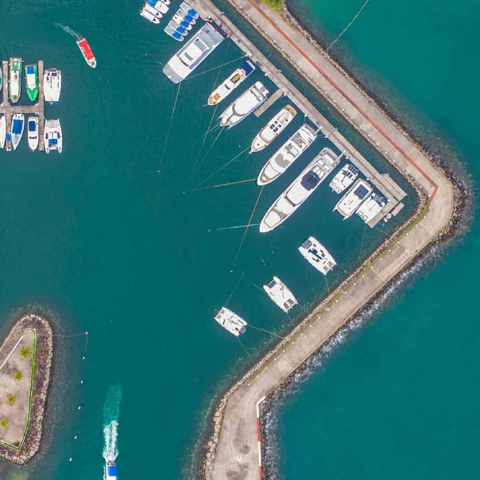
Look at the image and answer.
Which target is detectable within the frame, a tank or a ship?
ship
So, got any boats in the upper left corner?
Yes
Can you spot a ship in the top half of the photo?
Yes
